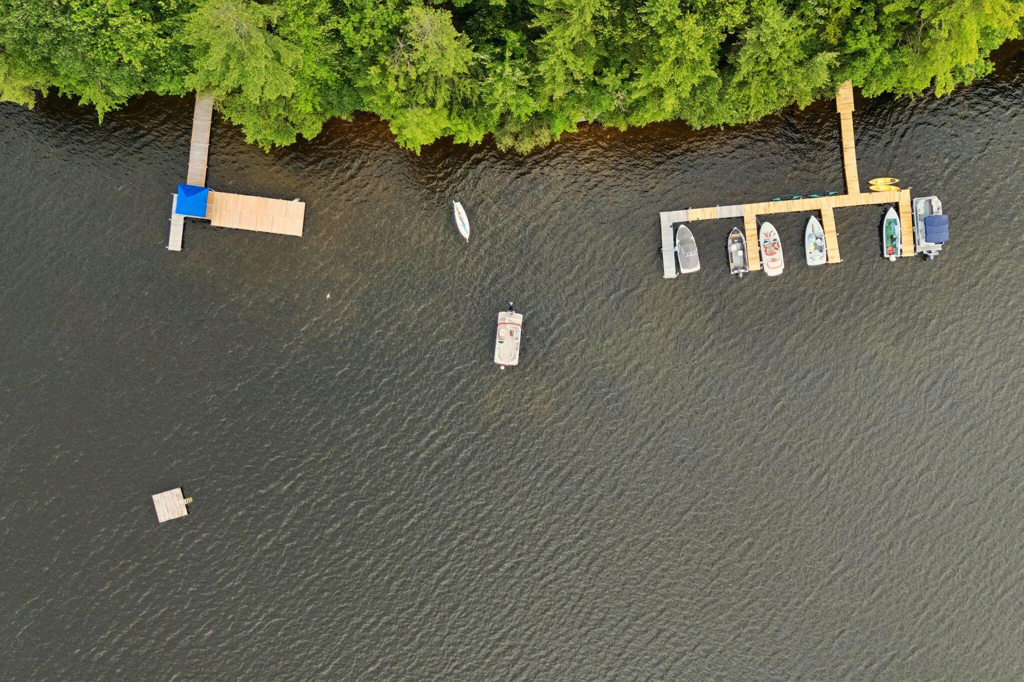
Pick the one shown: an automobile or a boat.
boat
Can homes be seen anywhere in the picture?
No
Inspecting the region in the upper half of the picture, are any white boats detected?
Yes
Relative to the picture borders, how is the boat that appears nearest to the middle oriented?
from top to bottom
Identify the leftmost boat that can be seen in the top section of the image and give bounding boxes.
[453,200,470,239]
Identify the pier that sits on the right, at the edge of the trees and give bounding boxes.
[658,82,916,278]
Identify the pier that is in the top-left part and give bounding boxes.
[166,94,307,251]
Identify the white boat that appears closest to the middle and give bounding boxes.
[494,305,523,365]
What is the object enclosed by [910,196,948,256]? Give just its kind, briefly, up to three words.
boat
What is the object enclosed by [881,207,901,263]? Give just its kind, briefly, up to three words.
boat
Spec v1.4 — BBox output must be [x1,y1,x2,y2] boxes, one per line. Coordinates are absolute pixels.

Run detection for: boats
[869,186,901,192]
[728,227,748,277]
[676,224,701,274]
[453,200,470,239]
[803,215,827,266]
[772,195,802,201]
[881,207,901,263]
[758,221,786,276]
[910,196,948,256]
[494,305,523,365]
[867,178,900,185]
[808,191,838,197]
